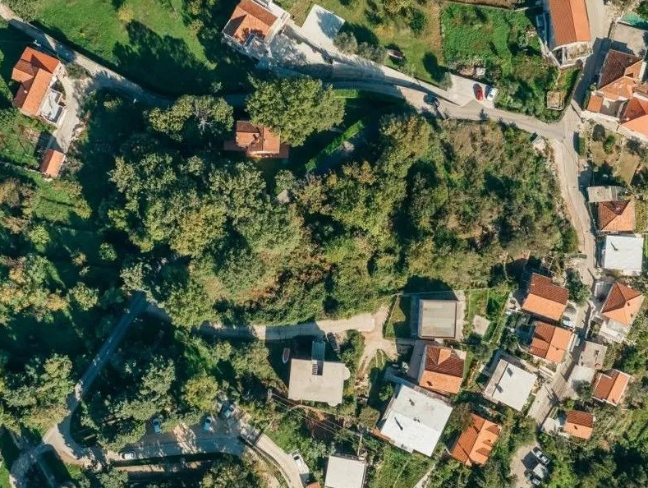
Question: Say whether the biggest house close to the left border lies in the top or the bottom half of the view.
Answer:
top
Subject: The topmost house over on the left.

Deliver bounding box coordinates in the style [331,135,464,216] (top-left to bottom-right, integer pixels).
[223,0,291,61]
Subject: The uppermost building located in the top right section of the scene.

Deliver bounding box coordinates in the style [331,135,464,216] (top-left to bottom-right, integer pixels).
[539,0,594,68]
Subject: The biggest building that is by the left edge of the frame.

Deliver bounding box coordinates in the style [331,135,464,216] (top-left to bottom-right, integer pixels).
[12,46,67,122]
